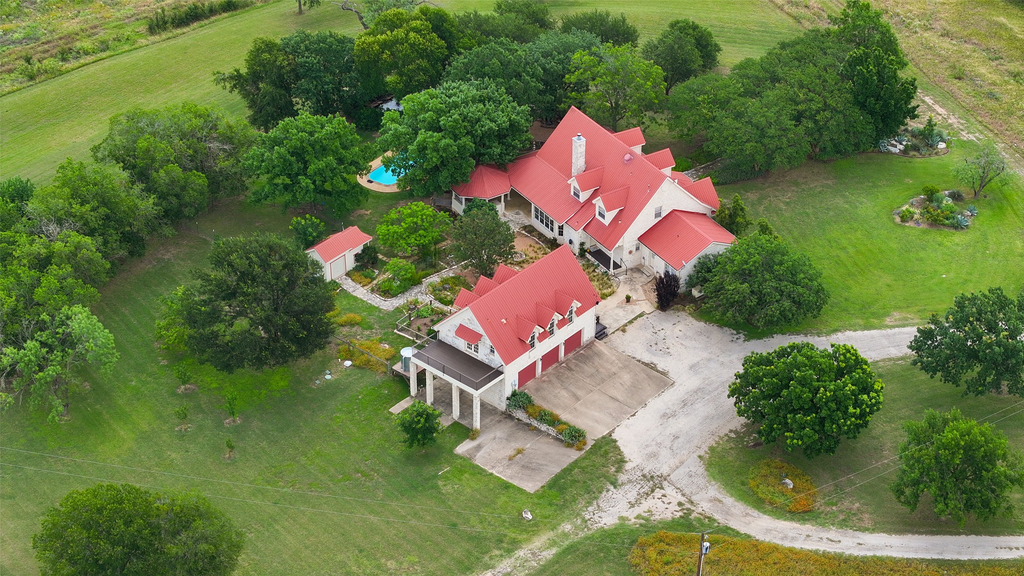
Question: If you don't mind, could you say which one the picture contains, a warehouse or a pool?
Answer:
pool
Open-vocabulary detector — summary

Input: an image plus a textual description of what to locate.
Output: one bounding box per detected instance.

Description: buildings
[307,227,379,279]
[411,243,602,428]
[448,106,744,293]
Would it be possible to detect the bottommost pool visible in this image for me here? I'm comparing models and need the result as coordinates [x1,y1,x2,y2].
[358,146,432,192]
